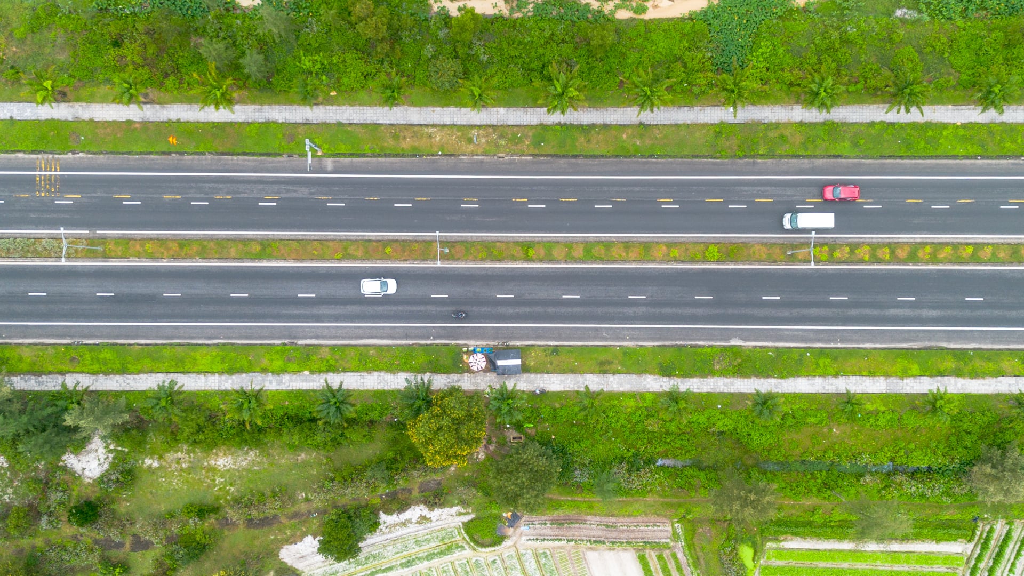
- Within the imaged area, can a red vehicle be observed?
Yes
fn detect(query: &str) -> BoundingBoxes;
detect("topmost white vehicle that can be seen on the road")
[781,211,836,231]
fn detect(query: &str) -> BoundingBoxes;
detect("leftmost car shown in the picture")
[361,278,397,295]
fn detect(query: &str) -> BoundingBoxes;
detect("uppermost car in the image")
[822,184,859,201]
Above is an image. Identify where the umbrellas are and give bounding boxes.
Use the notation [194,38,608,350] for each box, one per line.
[469,353,486,371]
